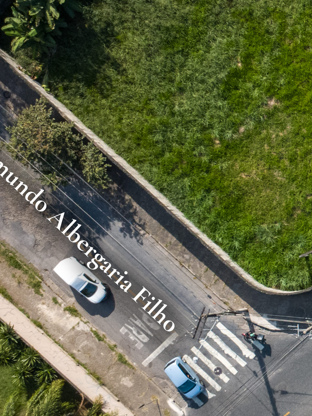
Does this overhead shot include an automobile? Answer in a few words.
Yes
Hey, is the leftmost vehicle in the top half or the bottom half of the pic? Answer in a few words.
bottom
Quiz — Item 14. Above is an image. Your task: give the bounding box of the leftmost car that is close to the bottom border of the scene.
[165,357,205,398]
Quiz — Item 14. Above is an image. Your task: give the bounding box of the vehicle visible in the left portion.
[53,257,108,301]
